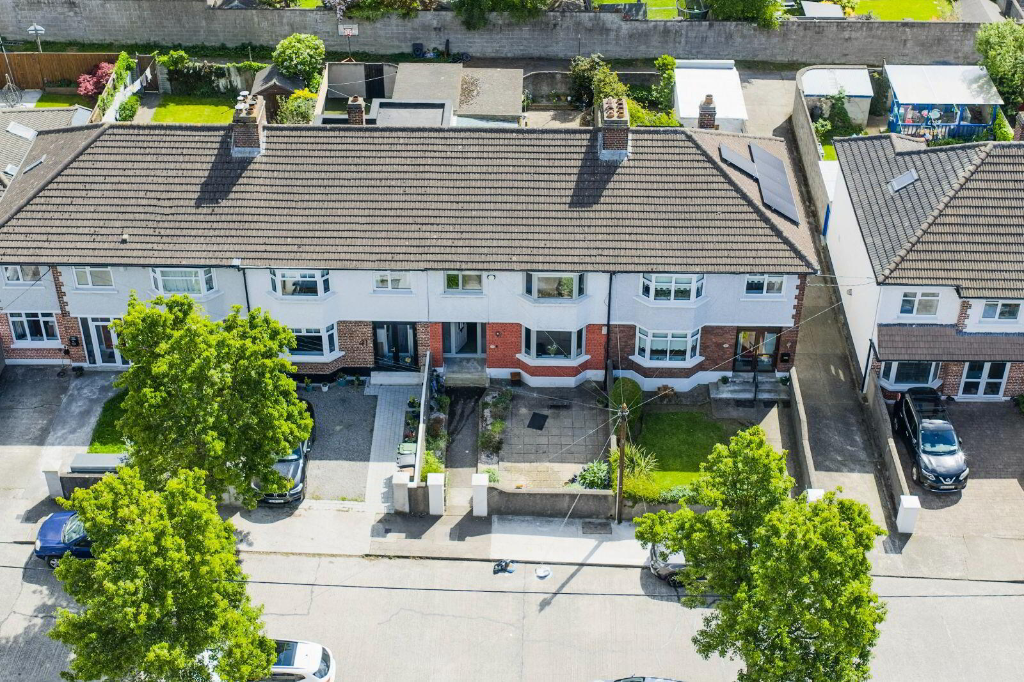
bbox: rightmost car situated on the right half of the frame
[892,390,971,493]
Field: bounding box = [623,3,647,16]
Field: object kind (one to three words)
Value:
shed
